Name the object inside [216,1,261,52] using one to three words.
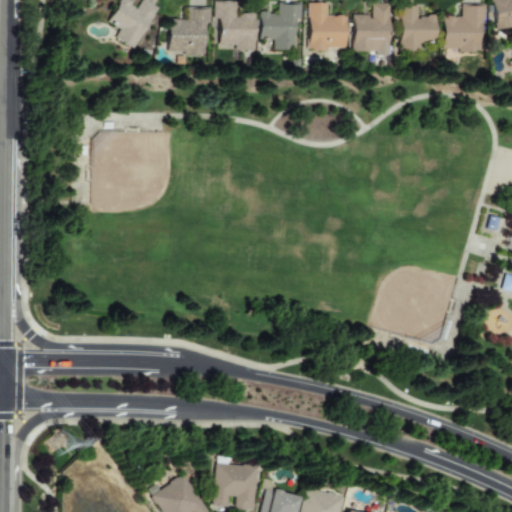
house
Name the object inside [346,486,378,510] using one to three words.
swimming pool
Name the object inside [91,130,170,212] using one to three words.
baseball field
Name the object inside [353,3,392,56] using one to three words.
house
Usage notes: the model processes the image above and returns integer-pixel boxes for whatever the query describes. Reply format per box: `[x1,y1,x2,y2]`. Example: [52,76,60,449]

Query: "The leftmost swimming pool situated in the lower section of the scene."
[268,468,298,484]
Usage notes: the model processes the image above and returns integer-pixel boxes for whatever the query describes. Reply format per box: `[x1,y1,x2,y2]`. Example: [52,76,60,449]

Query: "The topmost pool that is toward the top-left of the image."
[87,22,118,43]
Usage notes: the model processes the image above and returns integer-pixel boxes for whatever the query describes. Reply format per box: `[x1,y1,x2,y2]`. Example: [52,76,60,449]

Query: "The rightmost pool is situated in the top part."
[493,50,508,74]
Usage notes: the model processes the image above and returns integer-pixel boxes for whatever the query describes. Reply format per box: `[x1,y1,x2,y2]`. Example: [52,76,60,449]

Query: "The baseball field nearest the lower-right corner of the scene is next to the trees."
[371,266,456,342]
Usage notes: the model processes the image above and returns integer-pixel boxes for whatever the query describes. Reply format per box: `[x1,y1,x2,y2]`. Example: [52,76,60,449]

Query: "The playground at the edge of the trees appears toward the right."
[484,308,512,336]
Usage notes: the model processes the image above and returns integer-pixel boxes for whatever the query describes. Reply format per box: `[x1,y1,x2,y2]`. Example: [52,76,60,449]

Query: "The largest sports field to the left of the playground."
[34,92,490,366]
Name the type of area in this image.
sports ground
